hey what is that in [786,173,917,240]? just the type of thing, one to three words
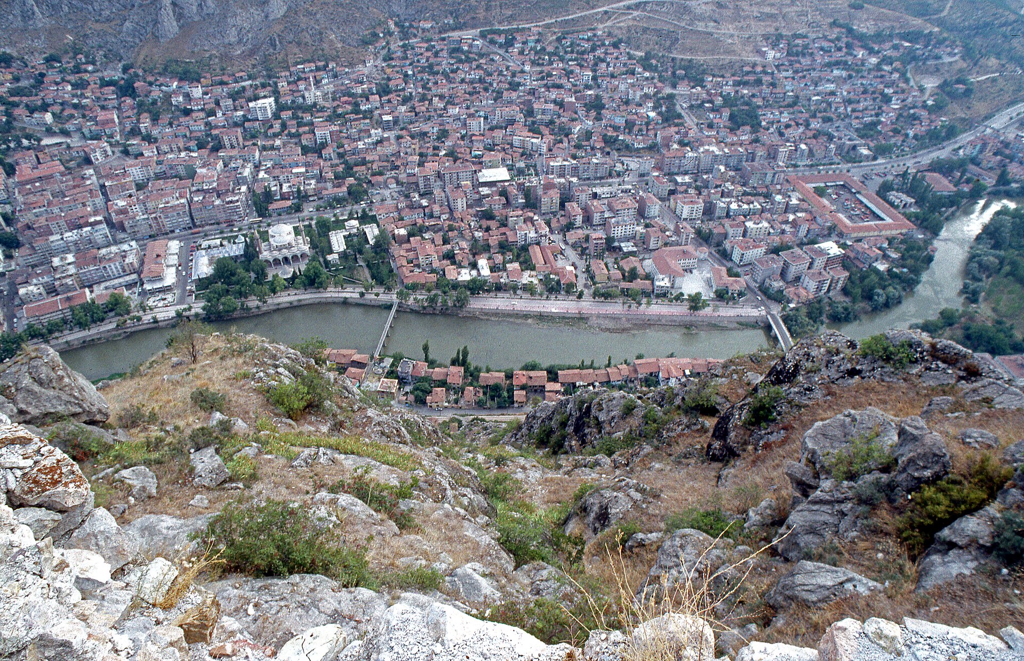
building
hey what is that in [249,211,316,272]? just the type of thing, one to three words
building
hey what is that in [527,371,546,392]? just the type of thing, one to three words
house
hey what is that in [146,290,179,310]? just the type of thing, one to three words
house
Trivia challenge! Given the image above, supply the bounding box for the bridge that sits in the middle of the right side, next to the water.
[762,313,789,348]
